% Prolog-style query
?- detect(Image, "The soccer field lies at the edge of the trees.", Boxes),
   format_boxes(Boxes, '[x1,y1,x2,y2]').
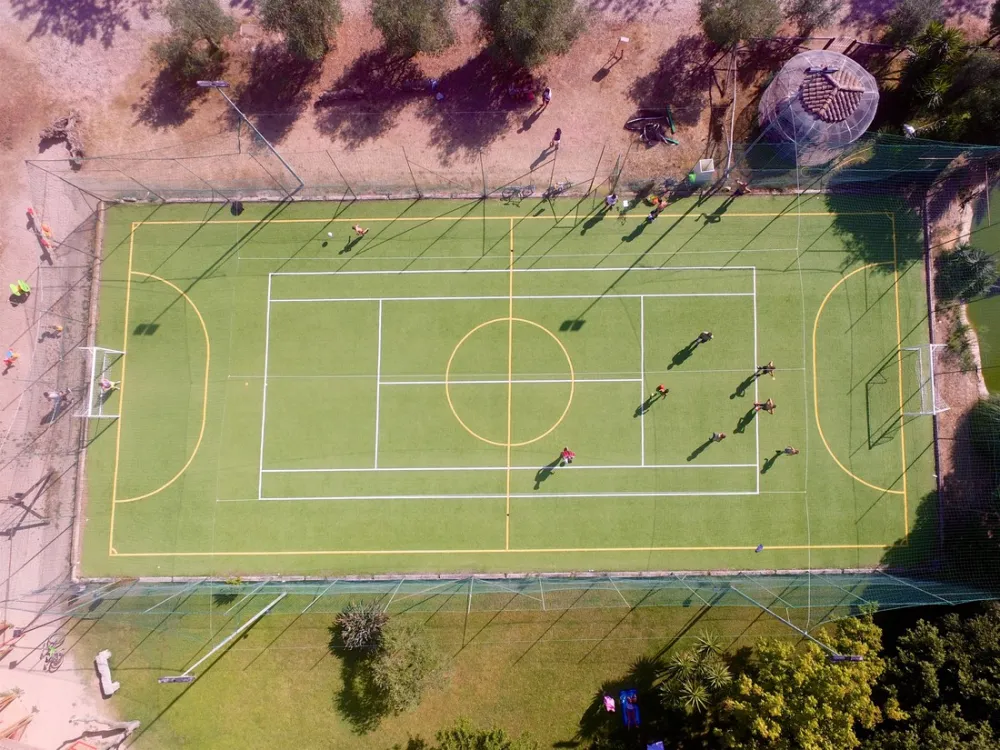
[80,194,939,577]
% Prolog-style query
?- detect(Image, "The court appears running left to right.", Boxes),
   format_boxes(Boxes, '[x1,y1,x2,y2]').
[259,267,760,499]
